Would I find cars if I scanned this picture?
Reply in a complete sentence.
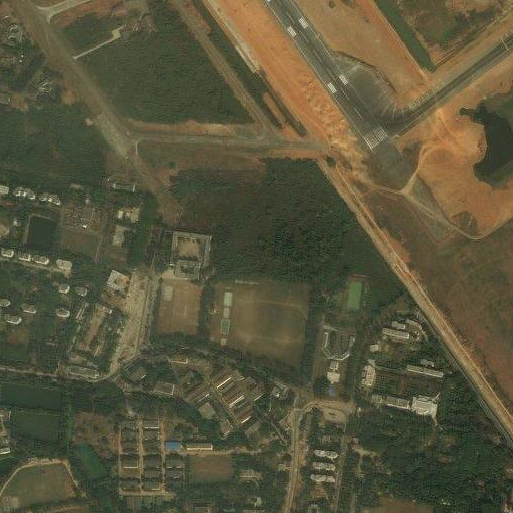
No, I find no car anywhere in the image.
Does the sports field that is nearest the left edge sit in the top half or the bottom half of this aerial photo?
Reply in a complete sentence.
The sports field that is nearest the left edge sits in the bottom half of the picture.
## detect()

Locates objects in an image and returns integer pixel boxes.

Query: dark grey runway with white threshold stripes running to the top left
[261,0,391,150]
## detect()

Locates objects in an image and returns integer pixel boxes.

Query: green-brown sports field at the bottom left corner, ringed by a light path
[0,458,79,511]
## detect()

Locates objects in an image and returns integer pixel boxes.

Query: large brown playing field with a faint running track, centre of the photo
[211,280,308,365]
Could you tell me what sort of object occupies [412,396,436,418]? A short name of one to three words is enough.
building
